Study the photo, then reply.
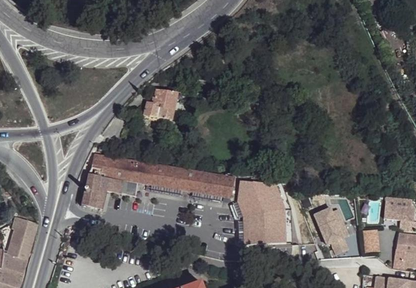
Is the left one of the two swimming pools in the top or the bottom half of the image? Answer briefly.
bottom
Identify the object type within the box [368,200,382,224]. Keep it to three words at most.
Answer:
swimming pool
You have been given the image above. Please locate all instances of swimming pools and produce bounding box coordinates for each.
[330,198,354,222]
[368,200,382,224]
